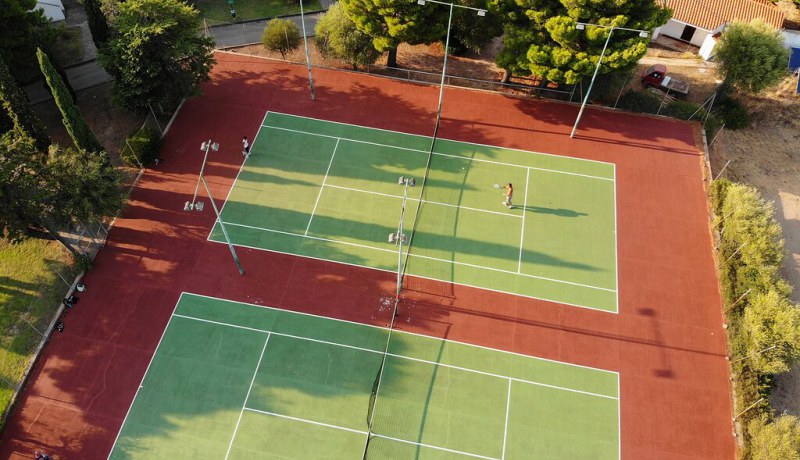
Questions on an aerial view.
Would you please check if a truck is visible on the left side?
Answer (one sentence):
No, no truck is visible on the left side.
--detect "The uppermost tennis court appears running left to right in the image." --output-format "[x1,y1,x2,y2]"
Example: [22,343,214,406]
[208,112,619,312]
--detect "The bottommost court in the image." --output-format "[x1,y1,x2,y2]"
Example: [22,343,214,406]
[105,291,622,460]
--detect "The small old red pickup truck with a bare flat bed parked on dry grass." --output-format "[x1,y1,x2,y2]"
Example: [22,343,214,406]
[641,63,697,100]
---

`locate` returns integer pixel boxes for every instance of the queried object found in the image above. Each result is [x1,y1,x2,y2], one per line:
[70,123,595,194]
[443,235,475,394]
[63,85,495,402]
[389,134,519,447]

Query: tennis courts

[208,112,619,312]
[105,291,622,460]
